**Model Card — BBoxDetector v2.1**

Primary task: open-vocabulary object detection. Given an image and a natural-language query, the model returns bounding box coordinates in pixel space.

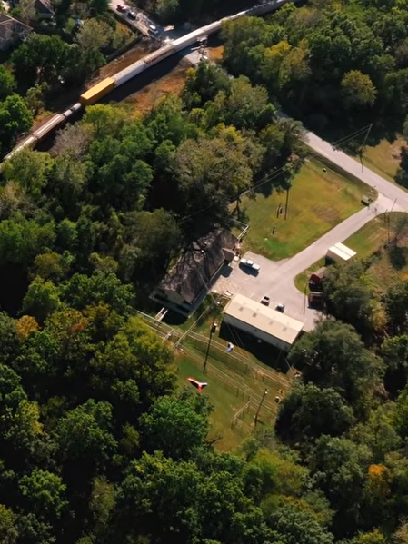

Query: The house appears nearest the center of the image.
[138,233,251,335]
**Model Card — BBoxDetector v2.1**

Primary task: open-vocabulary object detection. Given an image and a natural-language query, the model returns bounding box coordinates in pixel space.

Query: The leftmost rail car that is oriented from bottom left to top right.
[2,136,36,166]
